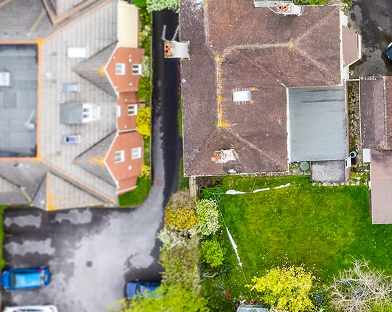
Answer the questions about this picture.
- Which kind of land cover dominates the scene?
buildings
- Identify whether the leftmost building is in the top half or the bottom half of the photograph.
top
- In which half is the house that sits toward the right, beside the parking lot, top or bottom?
top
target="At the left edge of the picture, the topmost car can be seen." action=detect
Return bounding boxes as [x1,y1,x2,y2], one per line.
[2,267,52,291]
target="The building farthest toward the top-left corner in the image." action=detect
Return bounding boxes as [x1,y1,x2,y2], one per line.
[0,0,143,210]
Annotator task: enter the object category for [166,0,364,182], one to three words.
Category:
house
